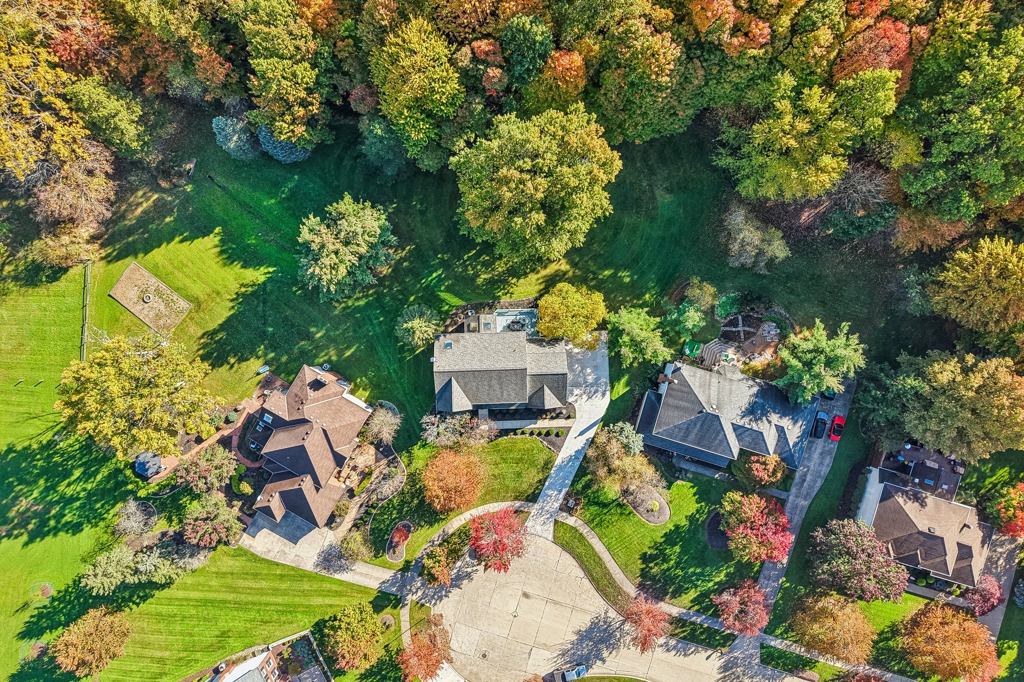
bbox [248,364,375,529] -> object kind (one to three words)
house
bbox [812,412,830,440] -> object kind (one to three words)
car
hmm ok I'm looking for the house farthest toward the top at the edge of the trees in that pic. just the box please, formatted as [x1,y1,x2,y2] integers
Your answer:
[430,314,567,413]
